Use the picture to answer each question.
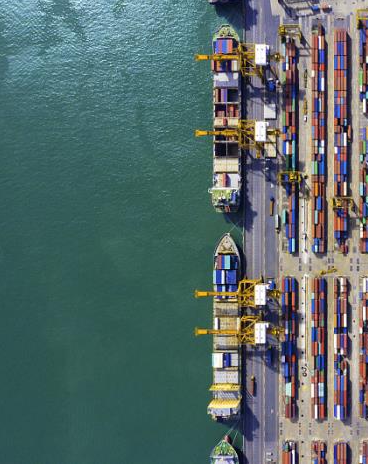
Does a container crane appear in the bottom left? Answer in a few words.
No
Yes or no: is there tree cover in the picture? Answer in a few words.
No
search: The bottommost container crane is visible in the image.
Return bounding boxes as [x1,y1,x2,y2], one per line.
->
[194,312,282,344]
